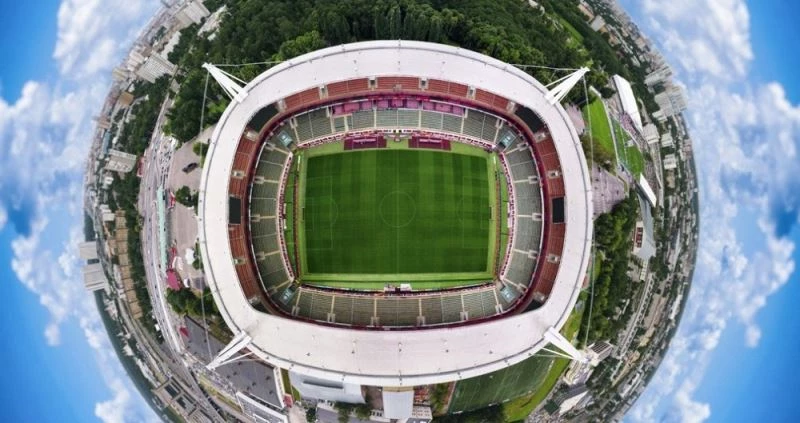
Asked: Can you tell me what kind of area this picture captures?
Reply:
sports ground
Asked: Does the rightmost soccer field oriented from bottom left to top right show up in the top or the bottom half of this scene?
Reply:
bottom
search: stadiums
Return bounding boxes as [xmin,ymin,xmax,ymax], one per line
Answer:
[197,40,594,390]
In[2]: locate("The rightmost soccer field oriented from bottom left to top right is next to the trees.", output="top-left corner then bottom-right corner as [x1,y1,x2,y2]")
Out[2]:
[449,320,580,423]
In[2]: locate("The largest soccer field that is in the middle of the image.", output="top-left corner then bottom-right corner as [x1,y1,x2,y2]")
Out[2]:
[279,131,513,295]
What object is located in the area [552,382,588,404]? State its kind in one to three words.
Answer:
shed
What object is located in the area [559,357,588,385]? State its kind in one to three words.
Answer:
building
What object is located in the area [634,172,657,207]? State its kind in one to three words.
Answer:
building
